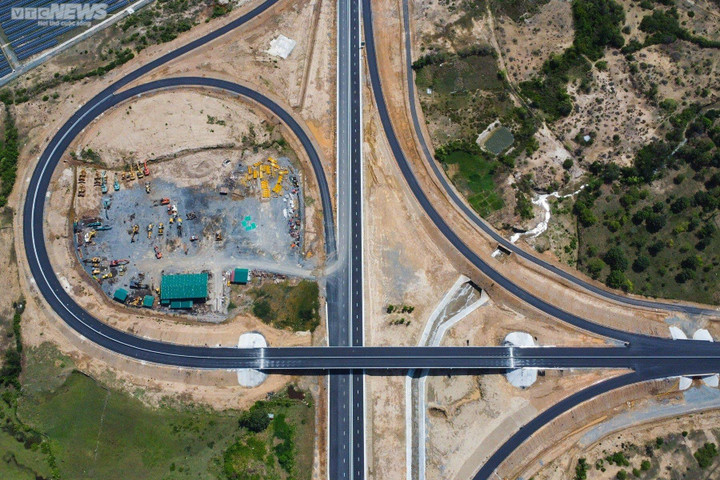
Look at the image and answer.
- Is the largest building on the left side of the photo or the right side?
left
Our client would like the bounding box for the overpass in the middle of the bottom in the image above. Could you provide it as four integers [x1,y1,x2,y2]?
[238,331,536,388]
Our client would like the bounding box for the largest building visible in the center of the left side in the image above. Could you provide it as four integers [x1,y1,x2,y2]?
[160,273,210,300]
